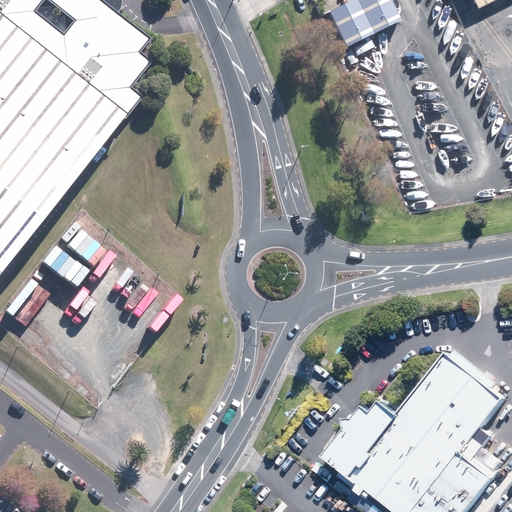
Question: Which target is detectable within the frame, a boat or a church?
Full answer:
I can see a boat in this picture.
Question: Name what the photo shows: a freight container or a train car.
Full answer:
I can see a freight container in this picture.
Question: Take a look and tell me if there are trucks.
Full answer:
Yes, there's a truck here.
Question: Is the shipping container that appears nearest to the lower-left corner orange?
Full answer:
No, the shipping container that appears nearest to the lower-left corner is white.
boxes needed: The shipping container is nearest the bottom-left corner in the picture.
[6,278,38,316]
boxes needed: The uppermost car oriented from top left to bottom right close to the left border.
[9,402,25,416]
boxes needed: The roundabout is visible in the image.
[248,245,305,302]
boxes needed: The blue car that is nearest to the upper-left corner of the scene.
[94,146,106,162]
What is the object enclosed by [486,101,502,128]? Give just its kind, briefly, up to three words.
boat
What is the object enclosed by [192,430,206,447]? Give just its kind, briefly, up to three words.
vehicle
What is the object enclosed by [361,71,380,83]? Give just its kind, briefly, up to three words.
boat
